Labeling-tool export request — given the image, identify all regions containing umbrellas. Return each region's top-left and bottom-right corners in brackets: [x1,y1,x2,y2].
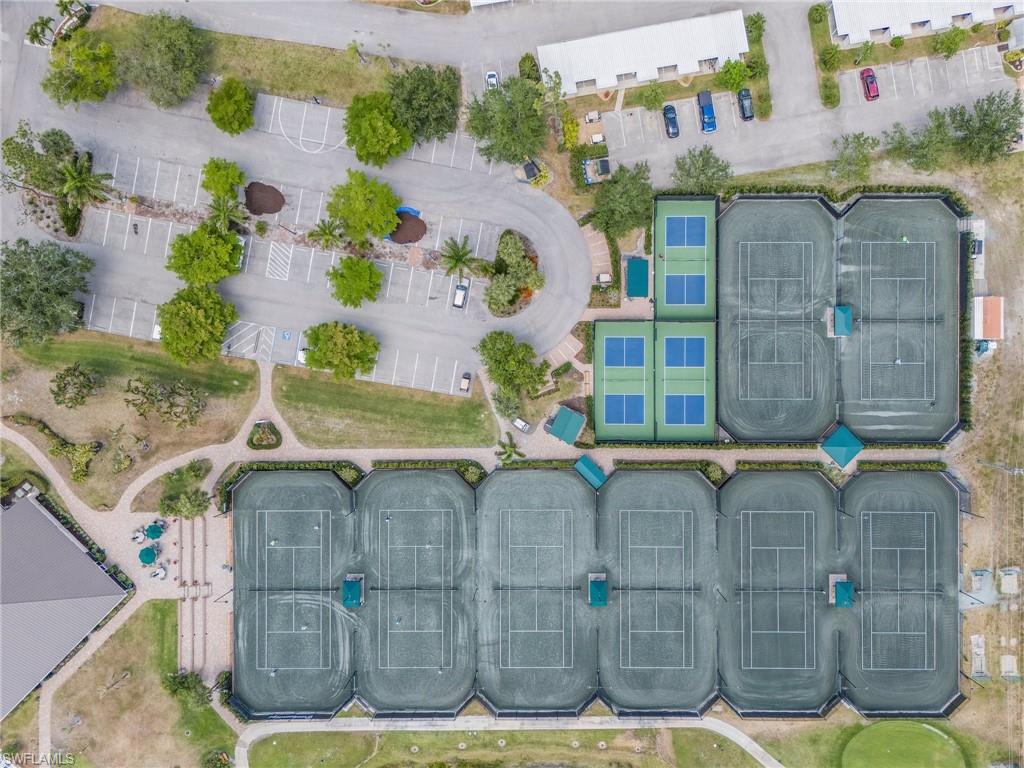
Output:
[139,546,158,564]
[146,523,163,540]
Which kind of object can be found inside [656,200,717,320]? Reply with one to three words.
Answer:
sports court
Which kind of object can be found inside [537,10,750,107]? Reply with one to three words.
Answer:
building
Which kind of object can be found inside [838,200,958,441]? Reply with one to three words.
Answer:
tennis court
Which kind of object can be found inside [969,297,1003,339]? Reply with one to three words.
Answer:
shed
